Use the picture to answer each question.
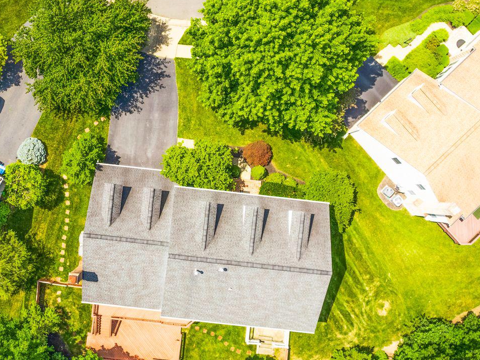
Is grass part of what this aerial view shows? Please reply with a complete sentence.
Yes, grass can be seen from above here.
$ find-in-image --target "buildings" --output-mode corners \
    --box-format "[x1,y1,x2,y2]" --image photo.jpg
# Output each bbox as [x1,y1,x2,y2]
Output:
[67,162,334,334]
[347,36,480,230]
